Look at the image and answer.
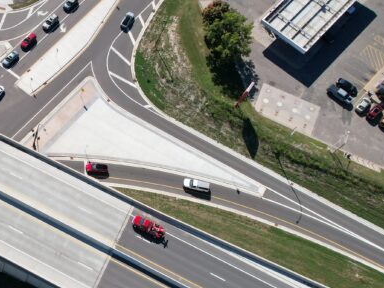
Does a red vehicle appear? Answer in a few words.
Yes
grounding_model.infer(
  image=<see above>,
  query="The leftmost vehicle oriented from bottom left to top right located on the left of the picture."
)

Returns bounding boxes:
[2,51,19,67]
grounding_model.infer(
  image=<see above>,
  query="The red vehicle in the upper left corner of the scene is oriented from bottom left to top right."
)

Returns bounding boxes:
[21,32,38,49]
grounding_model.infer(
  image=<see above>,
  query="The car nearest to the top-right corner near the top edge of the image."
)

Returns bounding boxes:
[342,3,359,18]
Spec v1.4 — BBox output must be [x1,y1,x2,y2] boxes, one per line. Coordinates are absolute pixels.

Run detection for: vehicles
[327,85,351,104]
[183,180,212,193]
[85,164,108,175]
[21,32,38,49]
[42,15,60,31]
[378,119,384,129]
[342,3,359,18]
[2,51,19,67]
[354,99,371,114]
[336,79,358,95]
[62,0,79,11]
[131,214,173,240]
[120,12,135,30]
[366,105,384,121]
